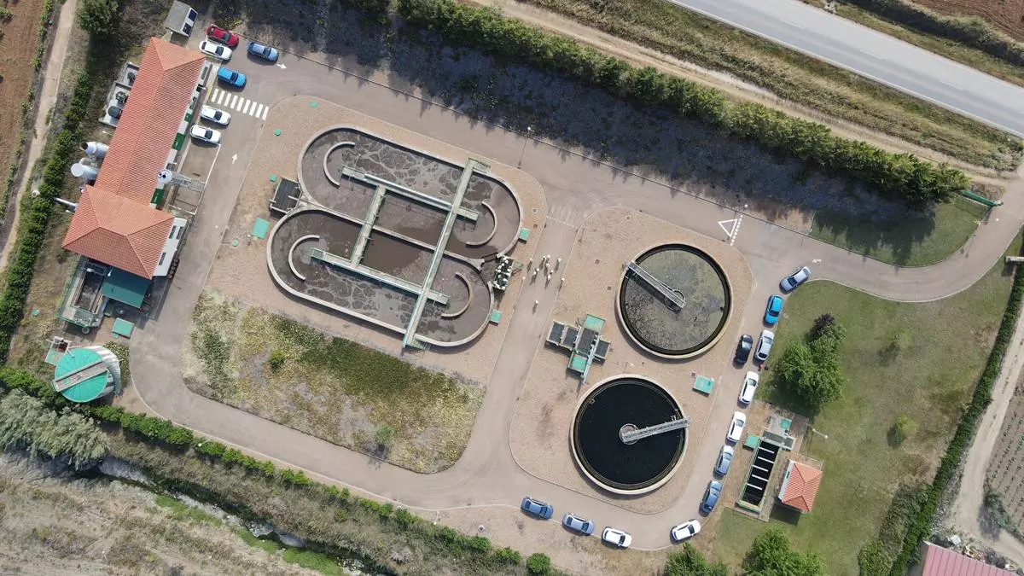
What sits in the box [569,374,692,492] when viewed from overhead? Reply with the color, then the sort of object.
black storage tank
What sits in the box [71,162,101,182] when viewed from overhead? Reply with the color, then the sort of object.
white silo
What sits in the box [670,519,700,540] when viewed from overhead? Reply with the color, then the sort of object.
white car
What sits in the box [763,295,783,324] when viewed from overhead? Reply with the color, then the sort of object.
blue car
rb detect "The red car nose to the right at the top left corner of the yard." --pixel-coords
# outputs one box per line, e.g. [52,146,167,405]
[206,26,239,48]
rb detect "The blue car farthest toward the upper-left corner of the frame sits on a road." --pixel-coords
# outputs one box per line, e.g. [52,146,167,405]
[215,67,247,88]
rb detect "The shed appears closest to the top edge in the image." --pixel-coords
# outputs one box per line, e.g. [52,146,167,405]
[160,0,196,41]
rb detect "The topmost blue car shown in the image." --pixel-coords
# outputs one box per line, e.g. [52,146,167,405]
[246,43,279,63]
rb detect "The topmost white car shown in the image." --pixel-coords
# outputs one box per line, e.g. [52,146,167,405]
[199,40,233,61]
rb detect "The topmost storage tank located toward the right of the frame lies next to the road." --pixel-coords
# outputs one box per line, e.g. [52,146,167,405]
[616,243,732,357]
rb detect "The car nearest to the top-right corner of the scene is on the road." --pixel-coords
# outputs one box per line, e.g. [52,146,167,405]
[779,266,812,291]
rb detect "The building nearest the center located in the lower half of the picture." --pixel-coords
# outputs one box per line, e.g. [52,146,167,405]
[546,315,610,382]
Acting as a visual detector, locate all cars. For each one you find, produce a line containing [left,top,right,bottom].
[738,371,758,404]
[713,445,733,477]
[670,519,700,540]
[521,497,553,517]
[246,43,279,63]
[700,480,720,513]
[725,410,745,443]
[206,26,239,48]
[199,40,233,61]
[215,67,247,88]
[754,330,774,361]
[199,106,232,126]
[601,527,631,546]
[734,333,753,364]
[779,266,812,291]
[189,125,223,145]
[763,295,783,324]
[562,512,593,533]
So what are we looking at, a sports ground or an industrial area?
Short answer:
industrial area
